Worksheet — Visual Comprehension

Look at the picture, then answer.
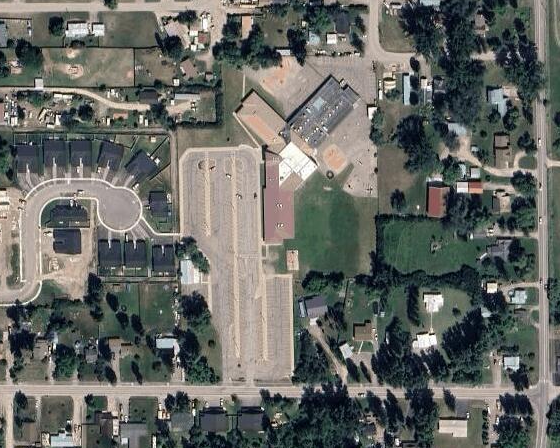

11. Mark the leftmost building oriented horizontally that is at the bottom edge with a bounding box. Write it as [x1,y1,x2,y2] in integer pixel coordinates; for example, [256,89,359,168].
[42,428,80,447]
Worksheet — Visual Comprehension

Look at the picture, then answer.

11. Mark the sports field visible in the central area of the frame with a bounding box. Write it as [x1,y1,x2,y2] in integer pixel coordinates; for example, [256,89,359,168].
[283,172,375,269]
